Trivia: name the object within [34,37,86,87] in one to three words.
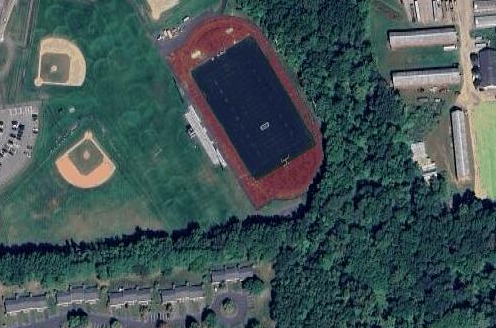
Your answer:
baseball field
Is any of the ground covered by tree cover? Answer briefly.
Yes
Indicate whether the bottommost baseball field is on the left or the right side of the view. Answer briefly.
left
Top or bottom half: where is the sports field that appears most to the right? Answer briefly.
top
